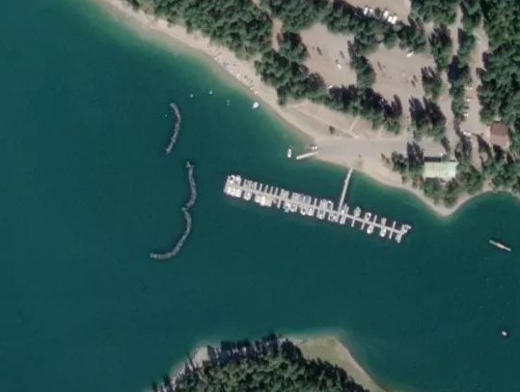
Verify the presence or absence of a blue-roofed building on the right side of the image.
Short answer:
No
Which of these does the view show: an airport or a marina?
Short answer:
marina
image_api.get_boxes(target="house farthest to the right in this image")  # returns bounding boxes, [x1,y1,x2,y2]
[486,123,509,150]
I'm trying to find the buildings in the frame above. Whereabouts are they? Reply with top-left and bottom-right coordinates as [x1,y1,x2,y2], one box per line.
[424,162,457,180]
[486,123,509,150]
